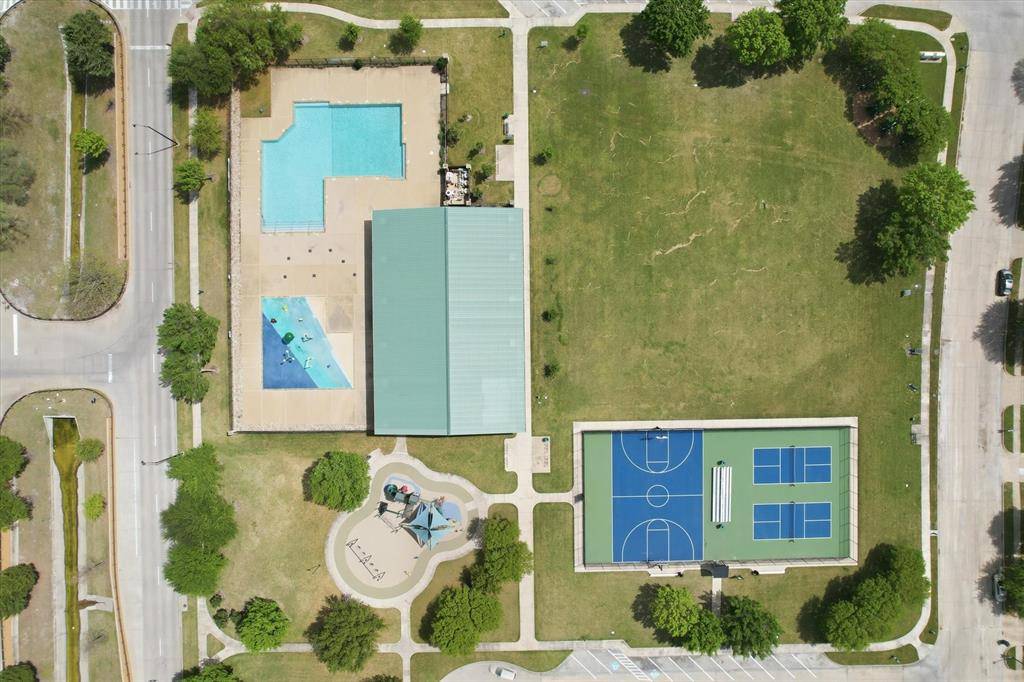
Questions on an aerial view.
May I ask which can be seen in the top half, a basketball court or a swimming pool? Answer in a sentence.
There is a swimming pool in the top half.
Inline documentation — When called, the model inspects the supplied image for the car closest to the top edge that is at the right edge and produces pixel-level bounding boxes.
[1000,270,1015,296]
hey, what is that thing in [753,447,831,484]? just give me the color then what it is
blue sports court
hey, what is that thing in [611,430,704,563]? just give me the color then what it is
blue basketball court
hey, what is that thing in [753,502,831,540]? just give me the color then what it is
blue sports court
